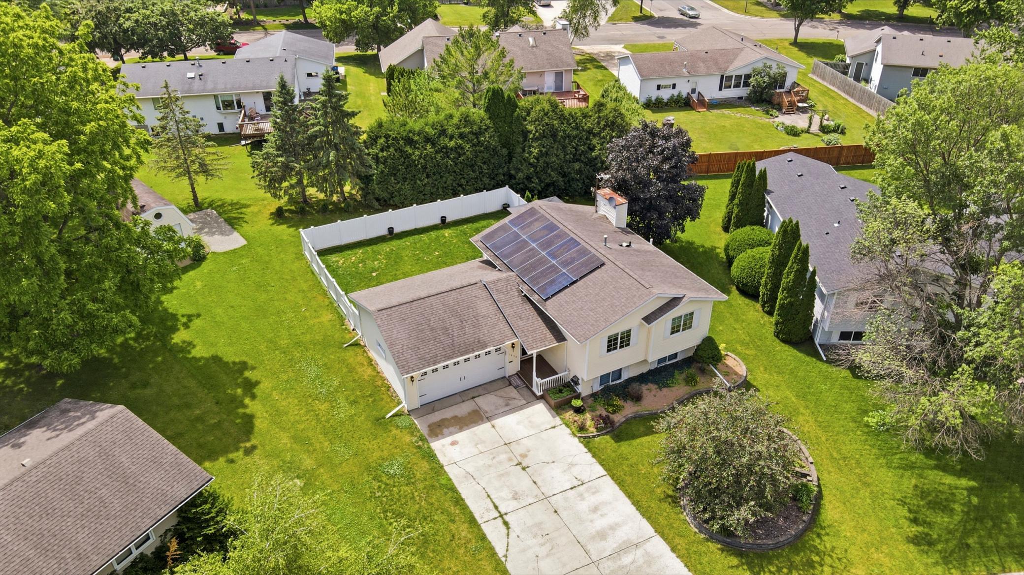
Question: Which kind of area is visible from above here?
residential area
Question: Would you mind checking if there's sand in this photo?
No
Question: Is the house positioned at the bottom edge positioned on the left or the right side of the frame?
left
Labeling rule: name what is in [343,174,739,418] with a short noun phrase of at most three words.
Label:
house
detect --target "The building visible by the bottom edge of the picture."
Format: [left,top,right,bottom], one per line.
[0,400,214,575]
